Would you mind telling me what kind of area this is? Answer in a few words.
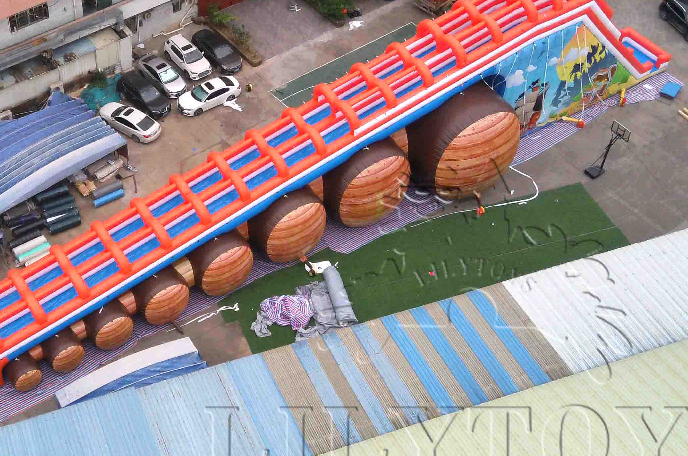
industrial area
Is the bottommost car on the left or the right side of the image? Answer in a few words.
left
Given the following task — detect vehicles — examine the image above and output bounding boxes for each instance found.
[347,3,366,17]
[188,27,243,77]
[656,0,688,38]
[111,66,171,121]
[96,105,166,150]
[175,75,245,117]
[157,31,212,84]
[131,51,186,100]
